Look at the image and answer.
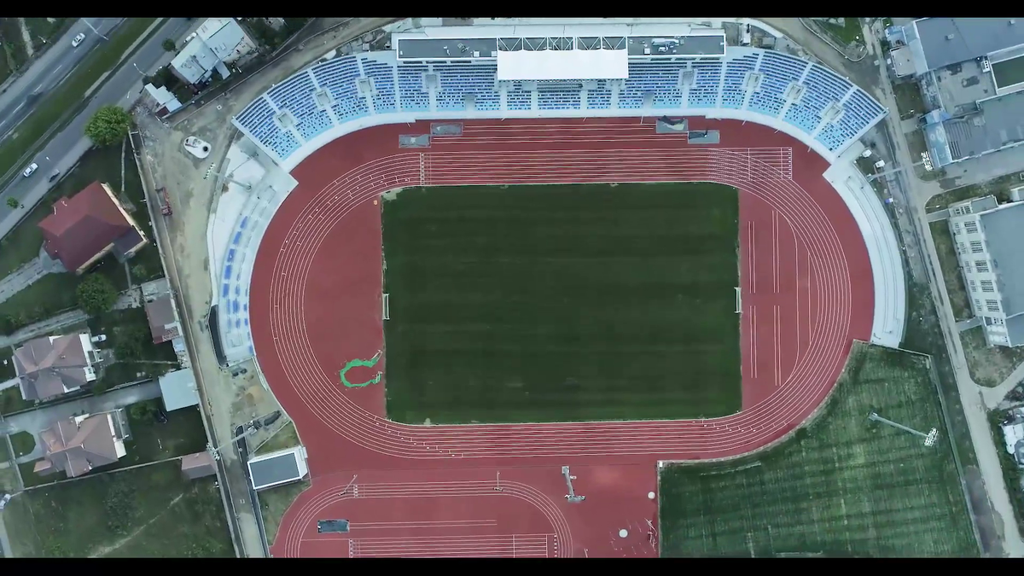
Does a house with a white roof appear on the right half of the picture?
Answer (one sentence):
Yes, a house with a white roof appears on the right half of the picture.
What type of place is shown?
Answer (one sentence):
This image shows a sports ground.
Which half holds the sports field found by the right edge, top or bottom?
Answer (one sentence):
Seen from above, the sports field found by the right edge lies in the bottom half of the view.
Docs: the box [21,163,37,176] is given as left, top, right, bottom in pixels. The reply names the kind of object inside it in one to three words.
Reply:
vehicle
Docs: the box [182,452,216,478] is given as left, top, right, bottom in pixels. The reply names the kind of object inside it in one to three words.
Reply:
shed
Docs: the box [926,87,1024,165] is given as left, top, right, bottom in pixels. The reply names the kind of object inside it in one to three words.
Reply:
building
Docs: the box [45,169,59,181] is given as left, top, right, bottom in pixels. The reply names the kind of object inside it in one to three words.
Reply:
vehicle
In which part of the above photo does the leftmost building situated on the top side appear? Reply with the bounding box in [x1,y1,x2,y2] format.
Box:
[38,181,153,274]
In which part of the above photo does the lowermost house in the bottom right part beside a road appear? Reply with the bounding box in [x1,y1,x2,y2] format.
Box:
[995,421,1024,465]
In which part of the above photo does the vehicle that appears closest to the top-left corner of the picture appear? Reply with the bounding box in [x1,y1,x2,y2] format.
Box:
[71,32,84,45]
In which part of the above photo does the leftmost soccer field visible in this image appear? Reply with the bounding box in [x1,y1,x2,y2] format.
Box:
[380,182,743,425]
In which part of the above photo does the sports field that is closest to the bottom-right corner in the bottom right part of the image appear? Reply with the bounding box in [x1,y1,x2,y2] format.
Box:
[659,342,983,576]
